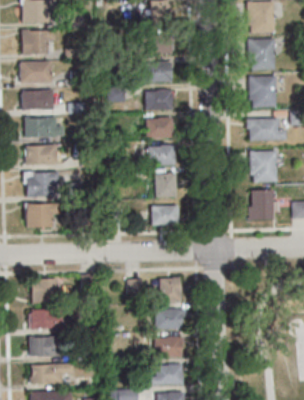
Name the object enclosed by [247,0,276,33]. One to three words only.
house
